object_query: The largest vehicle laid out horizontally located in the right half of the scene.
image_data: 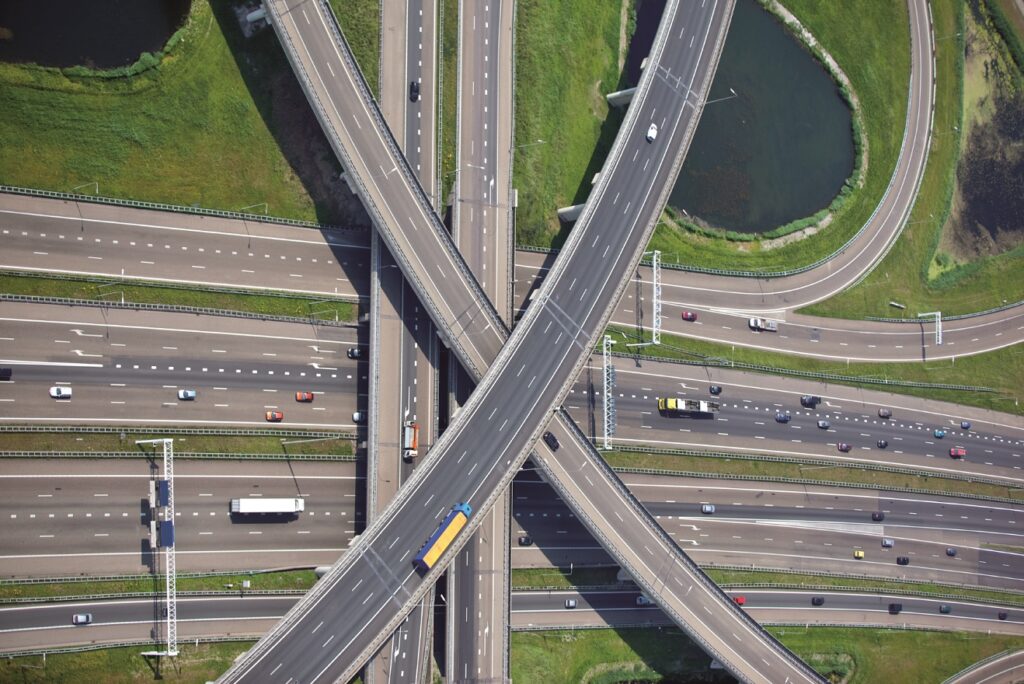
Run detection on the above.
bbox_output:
[658,399,720,414]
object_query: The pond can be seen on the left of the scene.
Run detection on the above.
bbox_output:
[0,0,189,76]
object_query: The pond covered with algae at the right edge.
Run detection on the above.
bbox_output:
[931,0,1024,277]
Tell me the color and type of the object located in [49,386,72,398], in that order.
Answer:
white vehicle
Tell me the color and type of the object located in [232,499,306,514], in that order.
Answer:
white vehicle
